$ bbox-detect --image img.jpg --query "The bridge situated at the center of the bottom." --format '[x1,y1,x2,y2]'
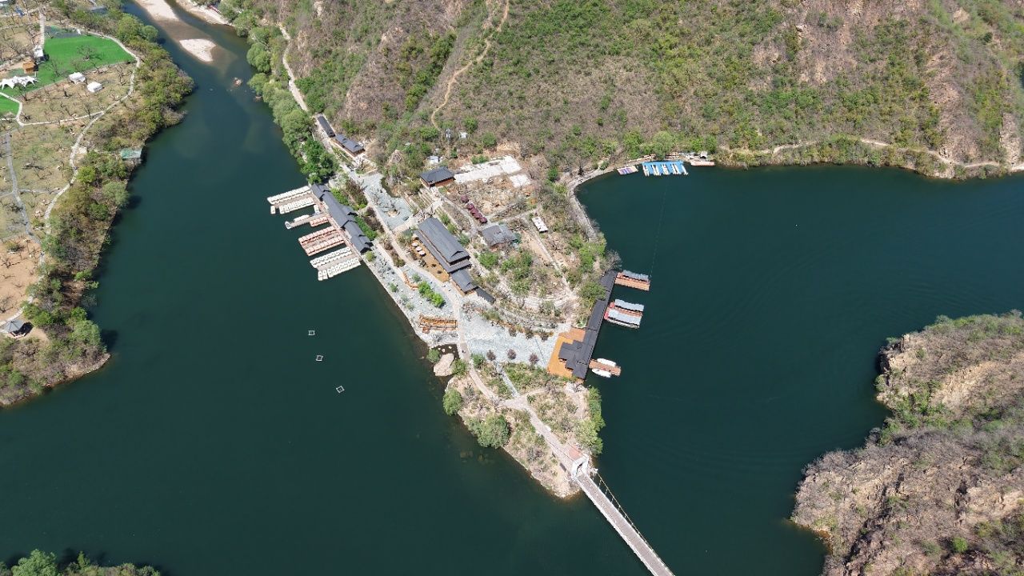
[556,447,674,576]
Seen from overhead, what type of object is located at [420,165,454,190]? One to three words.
house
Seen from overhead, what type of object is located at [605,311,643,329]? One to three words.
boat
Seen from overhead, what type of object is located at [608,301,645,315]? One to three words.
boat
